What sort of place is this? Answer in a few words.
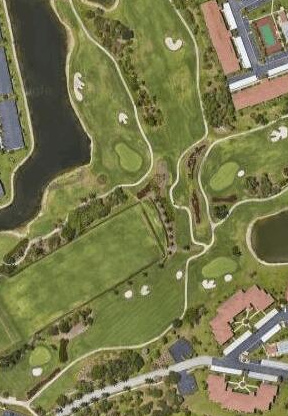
golf course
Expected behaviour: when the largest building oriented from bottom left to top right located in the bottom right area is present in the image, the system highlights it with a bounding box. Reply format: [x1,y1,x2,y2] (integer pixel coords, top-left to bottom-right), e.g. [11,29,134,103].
[211,285,273,344]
